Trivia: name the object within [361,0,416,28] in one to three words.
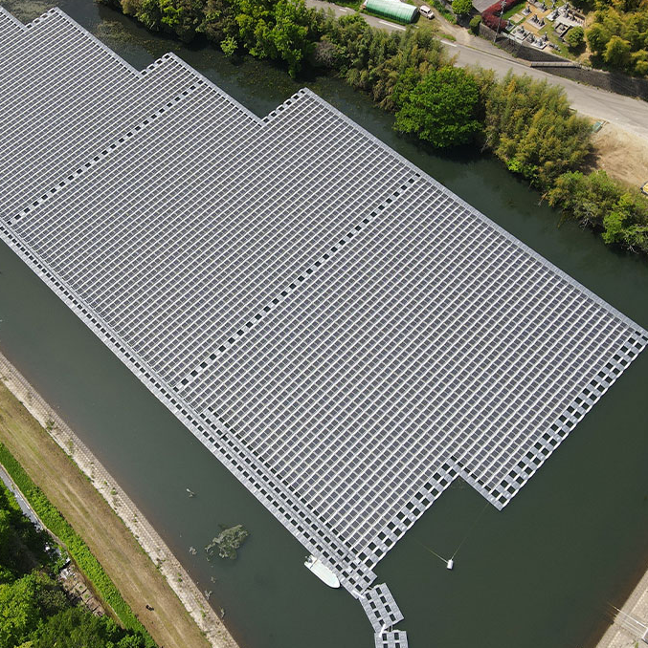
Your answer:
greenhouse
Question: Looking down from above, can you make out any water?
Yes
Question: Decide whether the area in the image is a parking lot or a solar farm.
solar farm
